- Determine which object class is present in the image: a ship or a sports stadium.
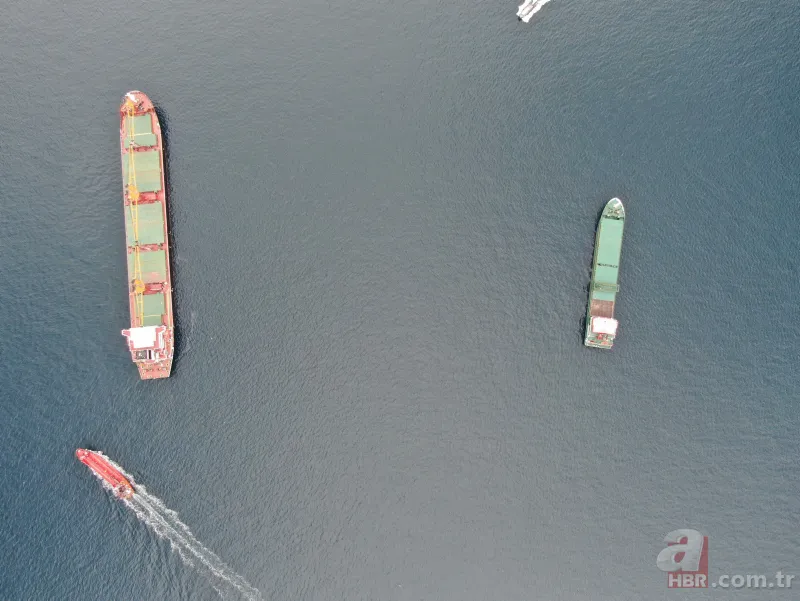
ship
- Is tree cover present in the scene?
No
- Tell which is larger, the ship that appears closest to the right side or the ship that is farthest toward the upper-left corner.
the ship that is farthest toward the upper-left corner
